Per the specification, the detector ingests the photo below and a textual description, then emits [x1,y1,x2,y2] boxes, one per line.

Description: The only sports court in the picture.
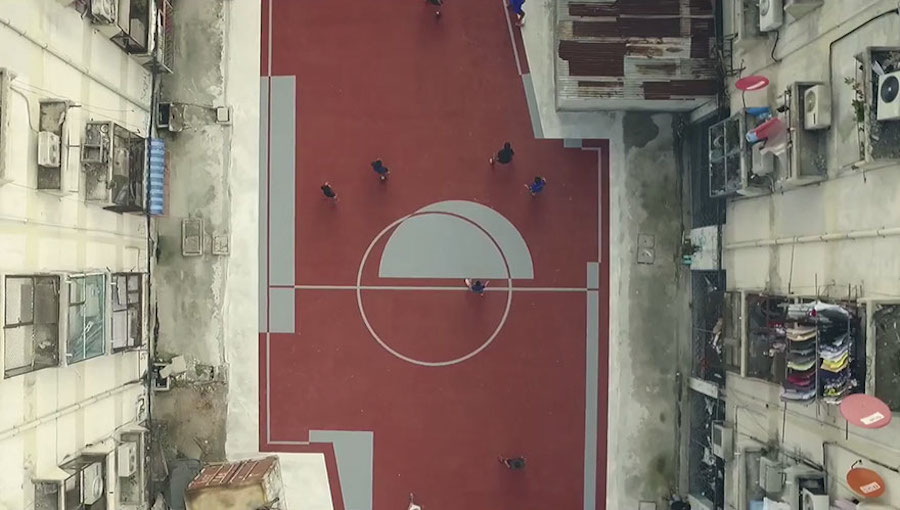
[258,0,610,510]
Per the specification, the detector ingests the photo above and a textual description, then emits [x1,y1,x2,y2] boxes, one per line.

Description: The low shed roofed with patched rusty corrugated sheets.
[556,0,720,114]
